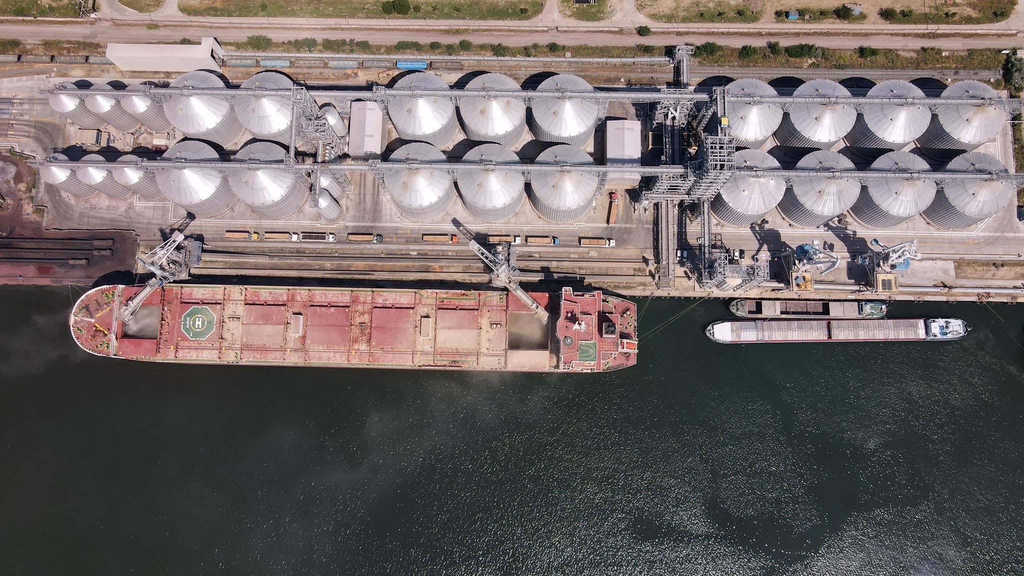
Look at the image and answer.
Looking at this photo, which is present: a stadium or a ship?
ship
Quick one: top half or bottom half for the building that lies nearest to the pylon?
top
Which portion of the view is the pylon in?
top left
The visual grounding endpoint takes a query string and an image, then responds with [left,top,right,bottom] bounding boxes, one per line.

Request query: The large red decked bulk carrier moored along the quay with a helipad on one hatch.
[66,284,639,373]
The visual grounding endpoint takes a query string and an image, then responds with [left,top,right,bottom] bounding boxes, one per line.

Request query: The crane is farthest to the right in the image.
[854,239,921,299]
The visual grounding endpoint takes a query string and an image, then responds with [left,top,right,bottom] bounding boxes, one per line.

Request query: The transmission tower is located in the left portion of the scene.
[67,0,99,21]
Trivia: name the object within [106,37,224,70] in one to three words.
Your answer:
building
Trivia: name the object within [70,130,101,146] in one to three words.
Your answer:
shed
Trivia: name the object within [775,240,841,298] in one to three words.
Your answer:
crane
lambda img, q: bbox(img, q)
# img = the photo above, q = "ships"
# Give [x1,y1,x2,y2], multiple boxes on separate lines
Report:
[728,299,891,319]
[66,284,639,373]
[704,317,971,344]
